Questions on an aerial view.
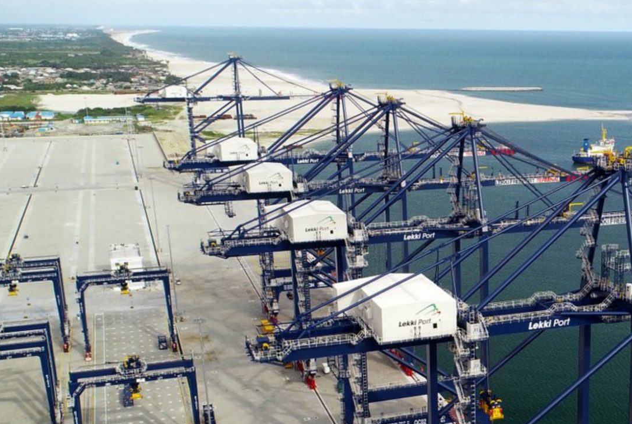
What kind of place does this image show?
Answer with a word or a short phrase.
port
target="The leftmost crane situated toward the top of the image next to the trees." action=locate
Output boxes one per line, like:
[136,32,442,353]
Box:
[133,53,326,191]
